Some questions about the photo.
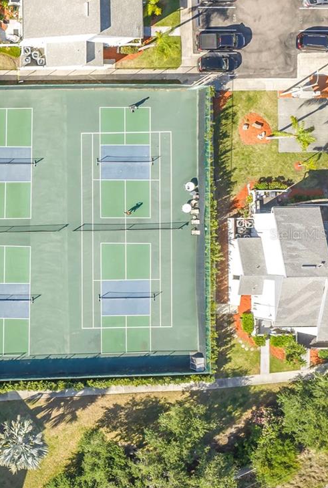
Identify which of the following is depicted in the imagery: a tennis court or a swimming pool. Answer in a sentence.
Of the two, only a tennis court appears.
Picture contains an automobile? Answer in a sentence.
Yes, there's an automobile down there.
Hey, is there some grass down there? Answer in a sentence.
Yes, grass can be seen from above here.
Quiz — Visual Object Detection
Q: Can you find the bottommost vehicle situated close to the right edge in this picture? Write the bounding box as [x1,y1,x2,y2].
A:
[294,30,328,51]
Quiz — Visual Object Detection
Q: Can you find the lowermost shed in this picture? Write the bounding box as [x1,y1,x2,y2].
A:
[191,355,211,376]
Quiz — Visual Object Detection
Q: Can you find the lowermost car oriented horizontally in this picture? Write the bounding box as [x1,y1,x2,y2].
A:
[195,52,236,71]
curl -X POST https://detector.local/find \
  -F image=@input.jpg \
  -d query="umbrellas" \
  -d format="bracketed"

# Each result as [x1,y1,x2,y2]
[180,181,194,192]
[177,203,191,214]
